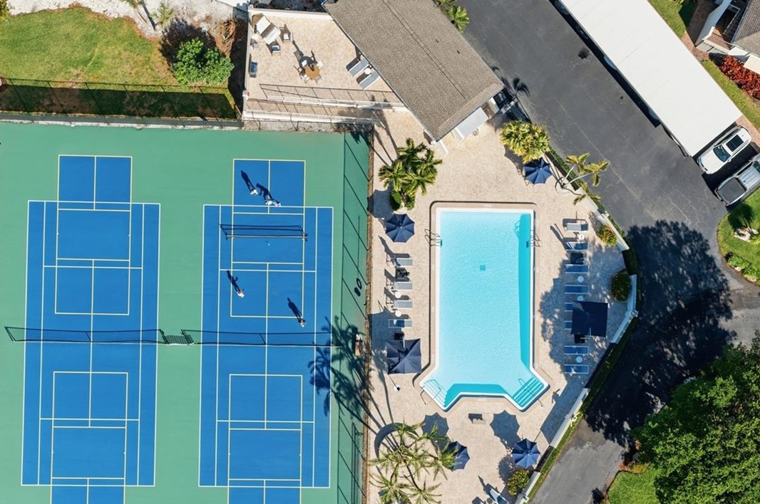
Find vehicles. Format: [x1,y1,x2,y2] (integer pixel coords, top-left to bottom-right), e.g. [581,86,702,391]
[713,154,760,208]
[696,126,750,175]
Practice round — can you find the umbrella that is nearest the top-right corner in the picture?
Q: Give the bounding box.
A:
[524,157,552,186]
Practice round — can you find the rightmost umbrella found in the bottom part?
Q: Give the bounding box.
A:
[572,302,605,346]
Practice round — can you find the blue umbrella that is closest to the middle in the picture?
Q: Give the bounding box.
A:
[384,214,415,243]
